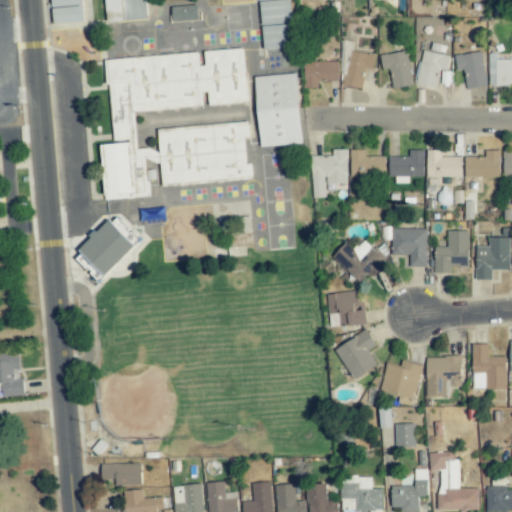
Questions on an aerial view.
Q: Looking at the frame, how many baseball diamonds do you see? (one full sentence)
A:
There is 1 baseball diamond in the image.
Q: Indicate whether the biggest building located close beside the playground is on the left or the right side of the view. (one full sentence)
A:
You can find the biggest building located close beside the playground on the left side of the picture.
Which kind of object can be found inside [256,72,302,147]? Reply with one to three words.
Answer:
building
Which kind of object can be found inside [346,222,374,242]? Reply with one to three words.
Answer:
swimming pool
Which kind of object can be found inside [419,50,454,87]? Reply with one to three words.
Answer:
house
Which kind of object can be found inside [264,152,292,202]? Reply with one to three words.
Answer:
basketball court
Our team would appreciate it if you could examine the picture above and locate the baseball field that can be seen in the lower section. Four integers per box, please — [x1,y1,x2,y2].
[97,240,332,457]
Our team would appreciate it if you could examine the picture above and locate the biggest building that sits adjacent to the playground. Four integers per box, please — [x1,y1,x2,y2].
[100,48,248,200]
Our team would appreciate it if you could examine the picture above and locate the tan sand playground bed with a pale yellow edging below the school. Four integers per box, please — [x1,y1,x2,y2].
[163,204,213,262]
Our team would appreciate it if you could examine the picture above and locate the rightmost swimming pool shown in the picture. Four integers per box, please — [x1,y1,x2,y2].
[430,221,448,237]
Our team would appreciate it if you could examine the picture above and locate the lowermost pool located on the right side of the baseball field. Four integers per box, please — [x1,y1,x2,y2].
[332,384,364,404]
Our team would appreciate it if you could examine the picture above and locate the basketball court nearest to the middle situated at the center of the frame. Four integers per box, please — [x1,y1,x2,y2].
[268,200,296,250]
